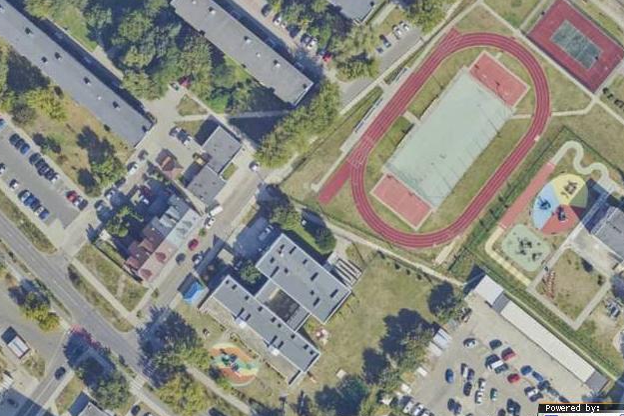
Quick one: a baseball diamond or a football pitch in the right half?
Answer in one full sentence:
You can see a football pitch in the right half.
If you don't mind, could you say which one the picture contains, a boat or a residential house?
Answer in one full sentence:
The one in the frame is a residential house.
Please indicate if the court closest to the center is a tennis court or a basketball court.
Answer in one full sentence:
What you see as the court closest to the center is a basketball court.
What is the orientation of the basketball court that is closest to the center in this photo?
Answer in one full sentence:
In this picture, the basketball court that is closest to the center lies diagonally.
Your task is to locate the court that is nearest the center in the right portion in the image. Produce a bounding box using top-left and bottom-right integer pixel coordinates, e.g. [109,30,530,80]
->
[370,171,435,232]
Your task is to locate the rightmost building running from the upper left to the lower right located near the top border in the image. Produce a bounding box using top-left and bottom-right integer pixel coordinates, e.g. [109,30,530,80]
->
[170,0,313,105]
